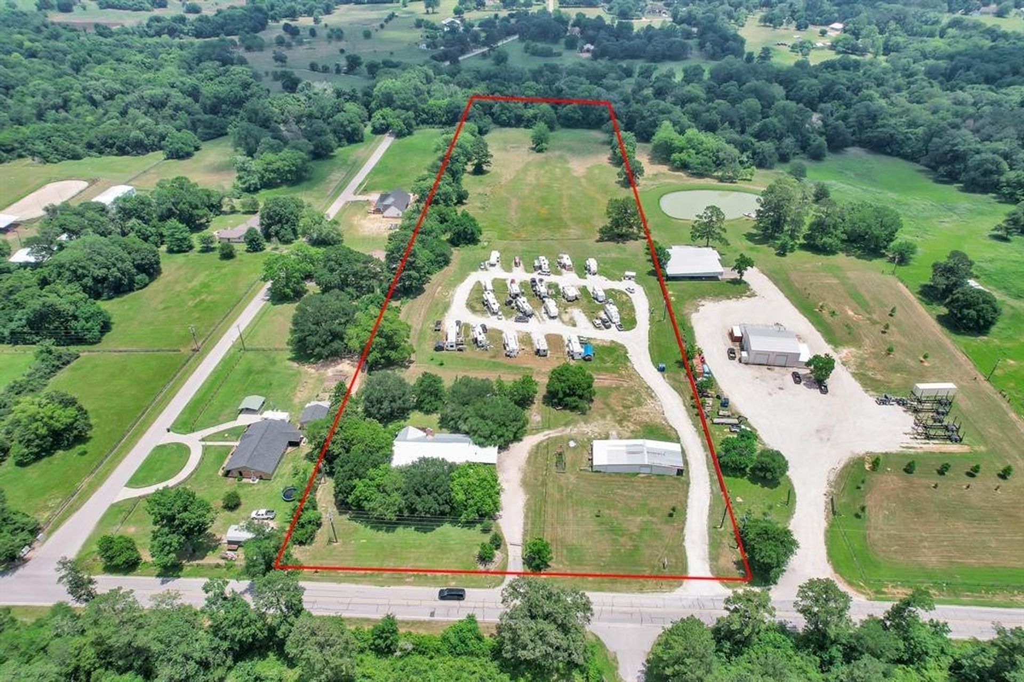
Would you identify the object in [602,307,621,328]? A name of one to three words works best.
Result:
vehicle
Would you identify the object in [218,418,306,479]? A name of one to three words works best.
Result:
house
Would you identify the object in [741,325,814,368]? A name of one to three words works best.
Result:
building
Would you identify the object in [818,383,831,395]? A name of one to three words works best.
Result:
vehicle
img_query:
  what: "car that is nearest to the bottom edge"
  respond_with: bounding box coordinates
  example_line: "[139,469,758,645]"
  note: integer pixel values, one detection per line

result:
[438,587,465,601]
